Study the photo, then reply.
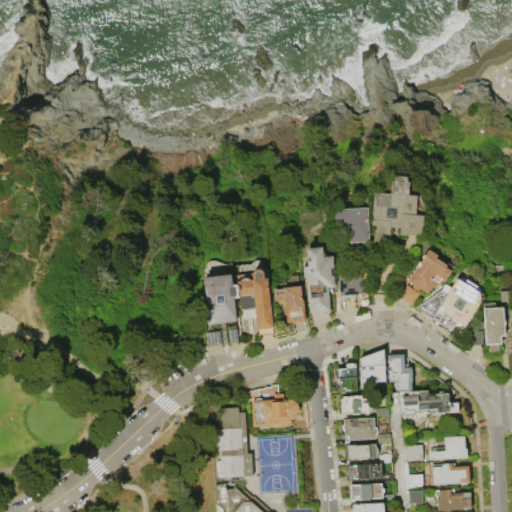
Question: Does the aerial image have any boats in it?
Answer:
No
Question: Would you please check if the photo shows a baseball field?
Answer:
No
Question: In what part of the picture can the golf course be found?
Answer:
bottom left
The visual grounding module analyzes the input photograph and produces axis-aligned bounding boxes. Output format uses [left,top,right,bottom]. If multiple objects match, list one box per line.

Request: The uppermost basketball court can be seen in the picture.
[258,436,298,493]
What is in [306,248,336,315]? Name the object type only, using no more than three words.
house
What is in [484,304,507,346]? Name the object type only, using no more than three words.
house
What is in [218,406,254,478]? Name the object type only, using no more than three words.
building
